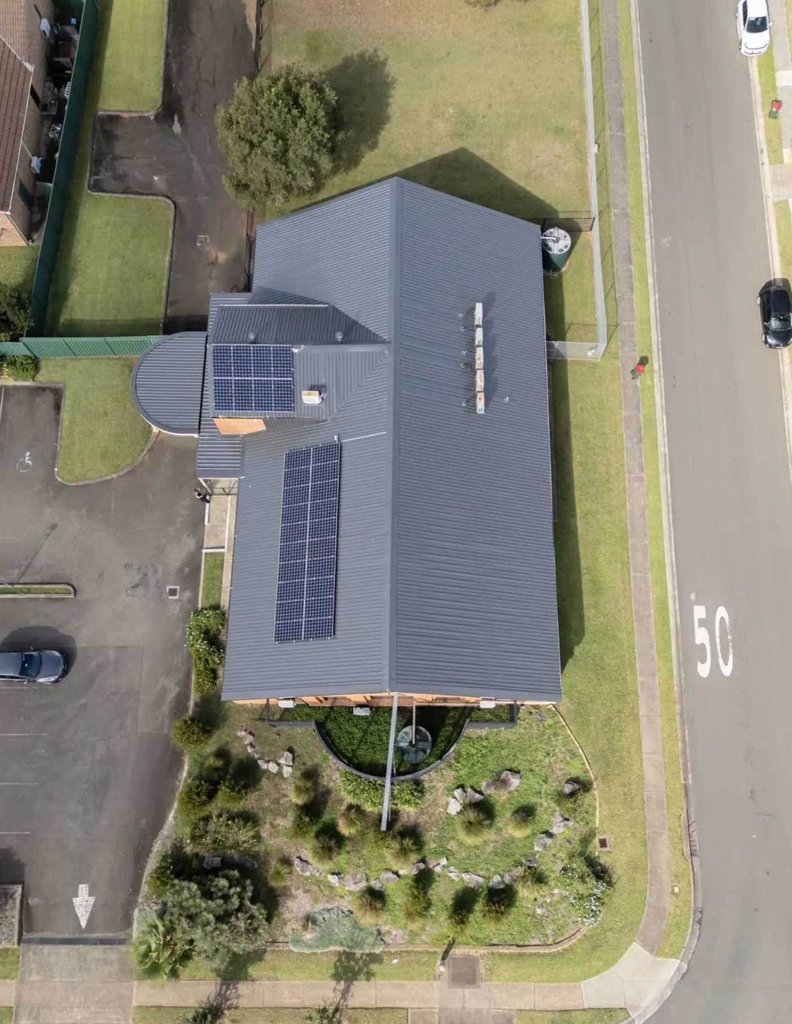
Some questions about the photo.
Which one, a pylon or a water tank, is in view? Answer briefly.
water tank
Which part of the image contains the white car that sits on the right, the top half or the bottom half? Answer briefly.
top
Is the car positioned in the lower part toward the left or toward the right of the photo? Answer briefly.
left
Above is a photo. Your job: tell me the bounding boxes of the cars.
[730,0,774,53]
[754,282,792,352]
[0,642,71,687]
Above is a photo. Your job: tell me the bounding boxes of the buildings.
[0,0,56,246]
[130,177,564,705]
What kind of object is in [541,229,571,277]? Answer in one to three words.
water tank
